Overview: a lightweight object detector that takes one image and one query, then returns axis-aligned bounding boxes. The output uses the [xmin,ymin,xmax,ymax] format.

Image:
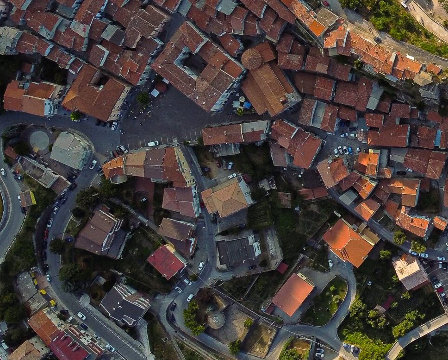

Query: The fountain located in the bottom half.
[207,311,226,330]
